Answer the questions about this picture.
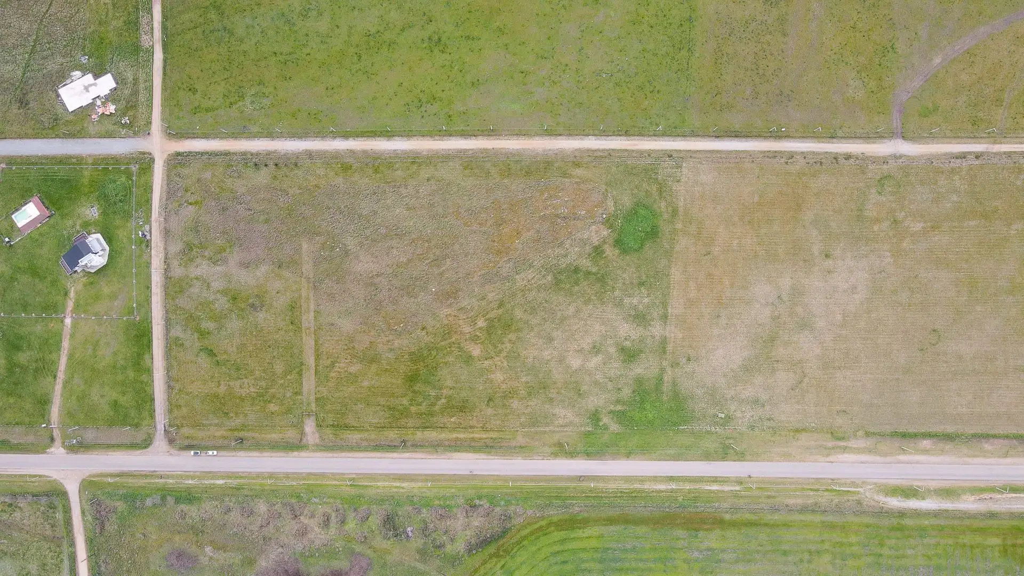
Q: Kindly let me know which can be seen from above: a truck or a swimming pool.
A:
swimming pool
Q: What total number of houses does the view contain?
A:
2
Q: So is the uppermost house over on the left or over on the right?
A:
left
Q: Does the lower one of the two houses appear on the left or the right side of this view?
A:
left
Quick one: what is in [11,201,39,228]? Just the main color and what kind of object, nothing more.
white swimming pool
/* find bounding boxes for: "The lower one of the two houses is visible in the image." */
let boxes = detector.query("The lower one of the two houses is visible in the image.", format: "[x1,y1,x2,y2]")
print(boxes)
[60,232,109,275]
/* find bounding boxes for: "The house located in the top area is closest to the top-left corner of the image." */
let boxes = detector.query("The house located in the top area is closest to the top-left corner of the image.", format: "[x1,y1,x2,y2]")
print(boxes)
[58,74,120,113]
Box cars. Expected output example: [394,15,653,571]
[190,451,200,456]
[207,451,216,456]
